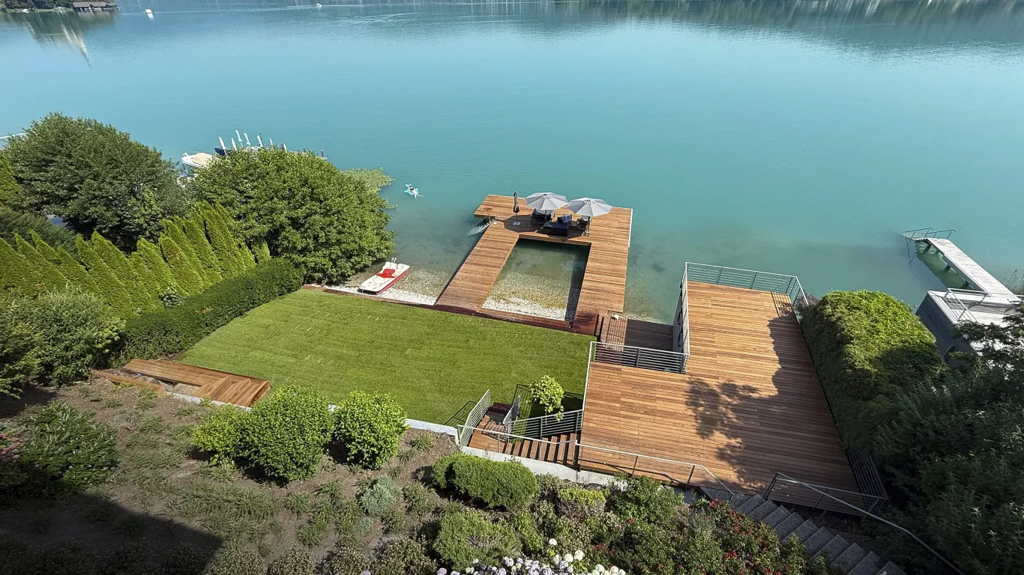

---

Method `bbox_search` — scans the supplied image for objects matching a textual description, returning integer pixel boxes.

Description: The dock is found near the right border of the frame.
[893,223,1024,303]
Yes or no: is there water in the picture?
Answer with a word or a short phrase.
Yes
